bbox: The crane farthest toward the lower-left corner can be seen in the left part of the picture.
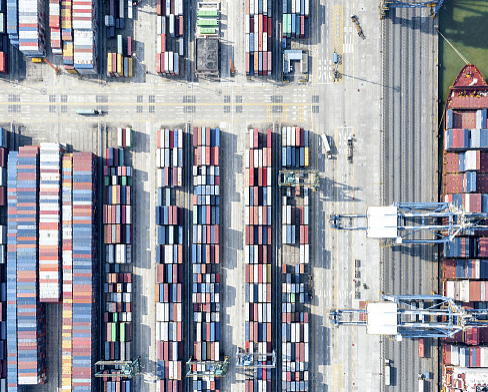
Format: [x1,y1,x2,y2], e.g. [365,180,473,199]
[94,354,148,378]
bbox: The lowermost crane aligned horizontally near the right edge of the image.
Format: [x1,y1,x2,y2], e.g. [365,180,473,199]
[331,289,488,340]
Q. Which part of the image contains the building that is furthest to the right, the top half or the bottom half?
top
